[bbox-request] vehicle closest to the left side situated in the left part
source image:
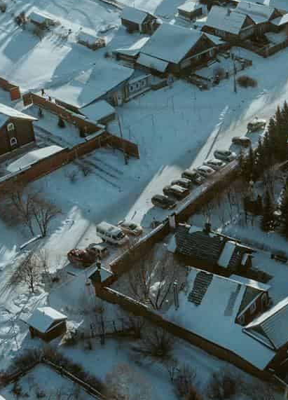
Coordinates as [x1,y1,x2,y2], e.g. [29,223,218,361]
[66,249,95,264]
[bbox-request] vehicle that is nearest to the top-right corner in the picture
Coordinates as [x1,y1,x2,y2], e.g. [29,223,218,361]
[245,118,268,131]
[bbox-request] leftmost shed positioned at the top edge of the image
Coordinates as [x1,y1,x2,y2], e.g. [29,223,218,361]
[27,12,57,33]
